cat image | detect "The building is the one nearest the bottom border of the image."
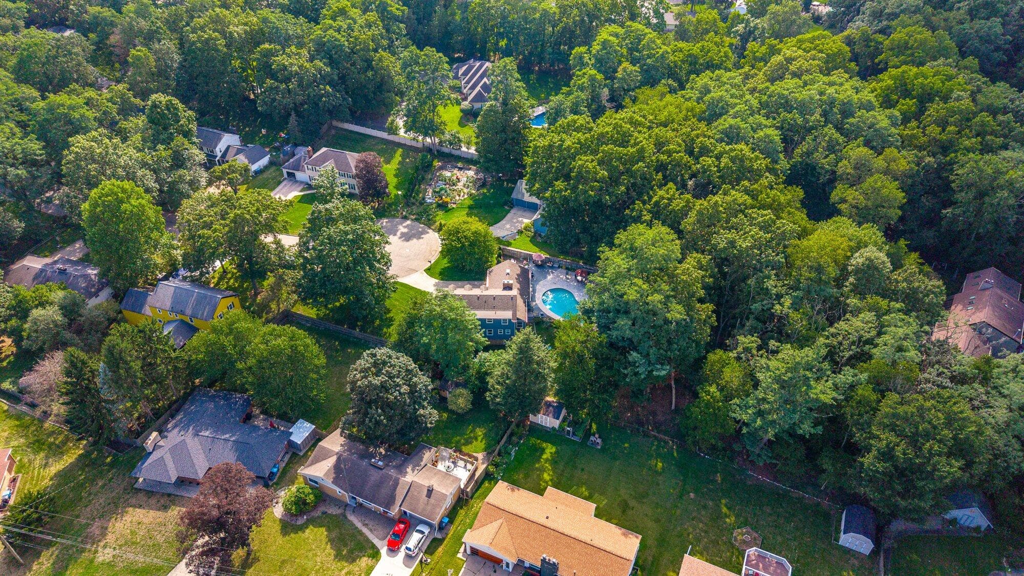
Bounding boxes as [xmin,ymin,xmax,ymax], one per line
[678,546,744,576]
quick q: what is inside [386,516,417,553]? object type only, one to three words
car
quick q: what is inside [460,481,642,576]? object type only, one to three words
house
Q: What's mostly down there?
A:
trees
